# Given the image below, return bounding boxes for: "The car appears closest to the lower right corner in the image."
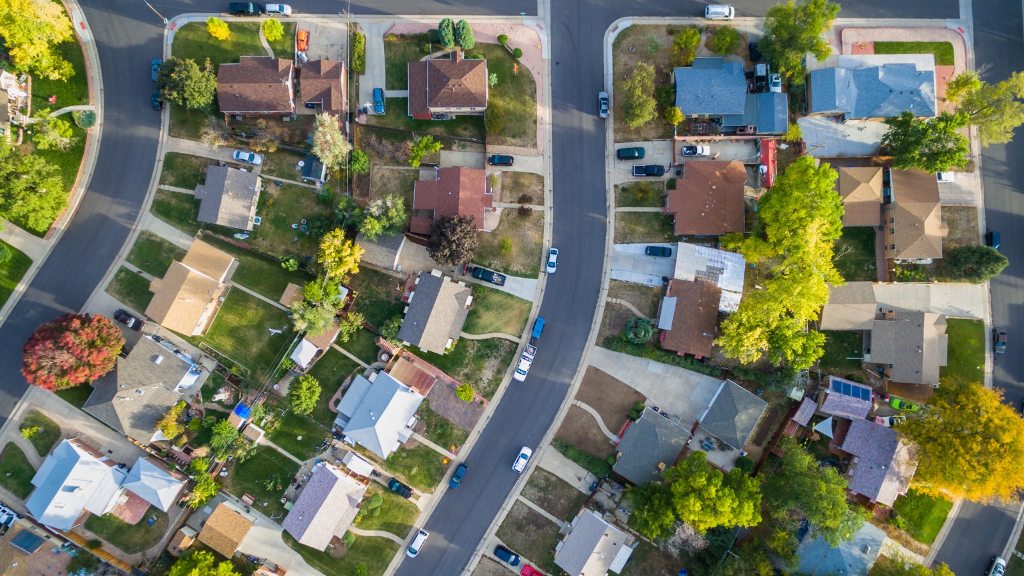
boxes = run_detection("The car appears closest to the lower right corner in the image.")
[984,553,1006,576]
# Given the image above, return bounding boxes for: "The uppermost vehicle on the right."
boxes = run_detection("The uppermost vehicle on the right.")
[703,4,735,20]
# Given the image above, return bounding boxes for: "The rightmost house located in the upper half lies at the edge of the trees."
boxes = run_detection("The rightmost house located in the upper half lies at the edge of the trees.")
[882,168,951,258]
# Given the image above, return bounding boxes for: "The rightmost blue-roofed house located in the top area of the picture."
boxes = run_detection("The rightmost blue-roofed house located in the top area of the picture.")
[807,63,936,121]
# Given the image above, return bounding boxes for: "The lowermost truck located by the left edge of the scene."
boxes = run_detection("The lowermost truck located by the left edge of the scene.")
[0,503,22,527]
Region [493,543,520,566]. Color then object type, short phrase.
blue car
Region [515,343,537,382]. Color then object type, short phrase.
white truck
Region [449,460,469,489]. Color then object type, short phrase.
blue car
